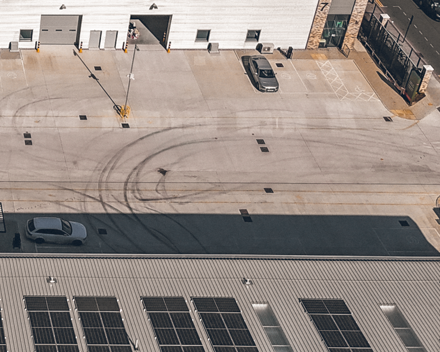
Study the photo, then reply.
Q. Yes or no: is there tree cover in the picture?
No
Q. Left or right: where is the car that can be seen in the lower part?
left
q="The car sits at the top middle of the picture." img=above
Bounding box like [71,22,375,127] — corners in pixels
[247,59,278,94]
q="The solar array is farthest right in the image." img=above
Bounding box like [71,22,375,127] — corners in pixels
[300,297,375,352]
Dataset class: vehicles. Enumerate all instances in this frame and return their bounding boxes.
[247,59,278,94]
[417,0,440,21]
[25,219,89,249]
